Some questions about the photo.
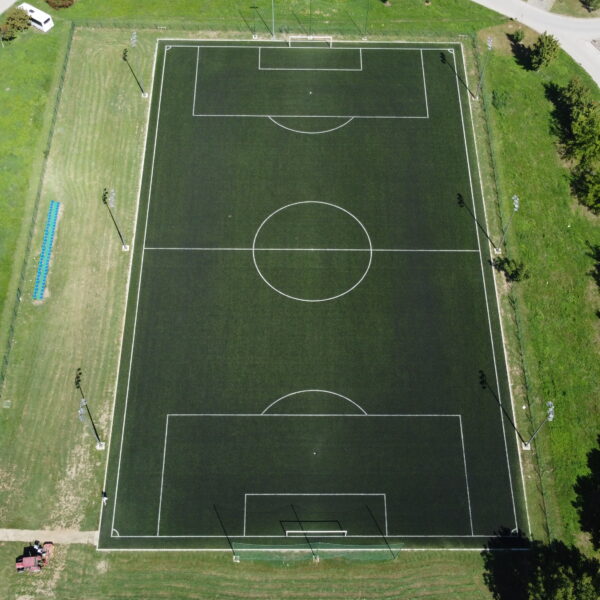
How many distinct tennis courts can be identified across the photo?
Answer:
0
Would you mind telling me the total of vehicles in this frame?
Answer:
2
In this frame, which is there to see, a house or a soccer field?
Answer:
soccer field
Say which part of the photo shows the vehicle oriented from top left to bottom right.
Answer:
top left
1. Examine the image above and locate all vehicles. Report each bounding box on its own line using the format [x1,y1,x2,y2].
[18,5,56,32]
[14,543,54,574]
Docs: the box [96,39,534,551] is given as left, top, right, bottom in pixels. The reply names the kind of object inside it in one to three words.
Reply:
soccer field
